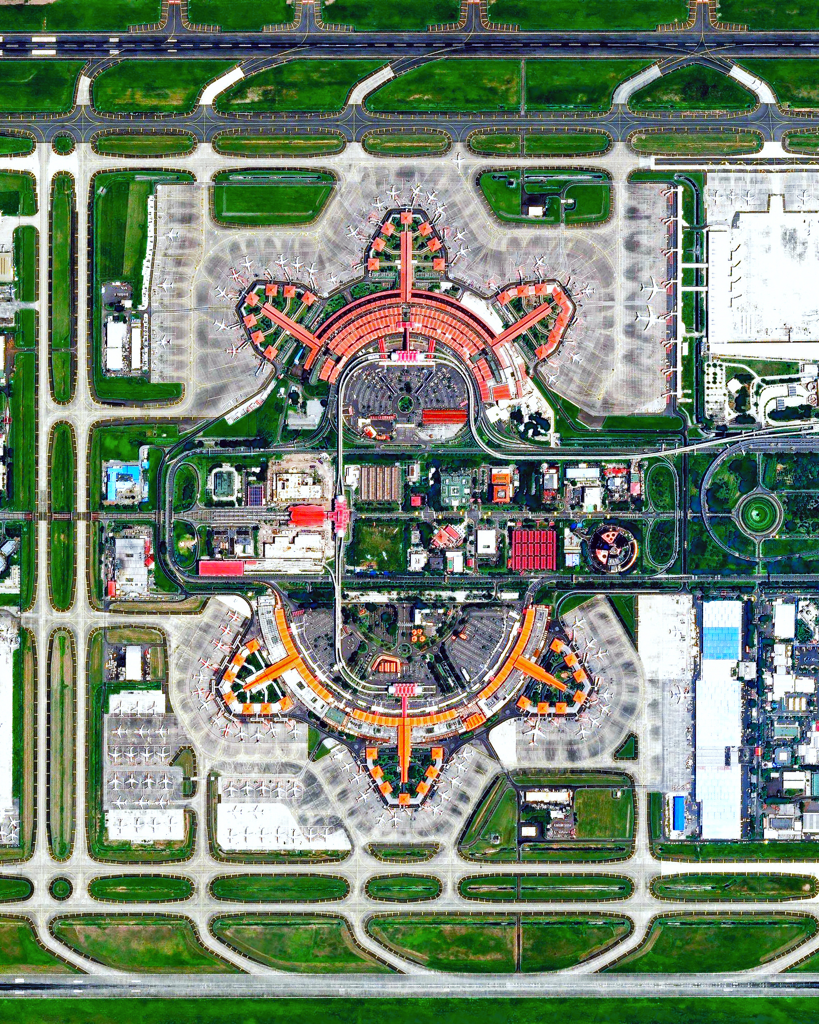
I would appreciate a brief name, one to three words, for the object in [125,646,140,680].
hangar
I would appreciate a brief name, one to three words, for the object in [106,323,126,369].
building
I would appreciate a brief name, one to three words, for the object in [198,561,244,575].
building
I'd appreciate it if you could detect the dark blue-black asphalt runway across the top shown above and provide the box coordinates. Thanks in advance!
[0,30,819,60]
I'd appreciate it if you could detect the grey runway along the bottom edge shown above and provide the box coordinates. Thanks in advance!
[0,973,819,999]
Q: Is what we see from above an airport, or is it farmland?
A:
airport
